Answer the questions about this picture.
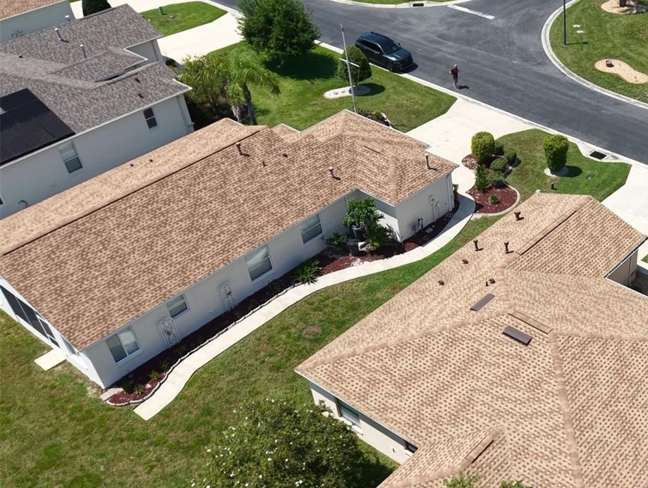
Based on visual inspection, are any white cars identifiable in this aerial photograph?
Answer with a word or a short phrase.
No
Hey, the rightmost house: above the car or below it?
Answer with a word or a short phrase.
below it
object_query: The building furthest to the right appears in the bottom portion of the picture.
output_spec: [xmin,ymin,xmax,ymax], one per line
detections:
[294,195,648,488]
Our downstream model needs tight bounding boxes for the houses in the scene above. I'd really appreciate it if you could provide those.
[0,109,460,388]
[294,195,648,488]
[0,3,203,215]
